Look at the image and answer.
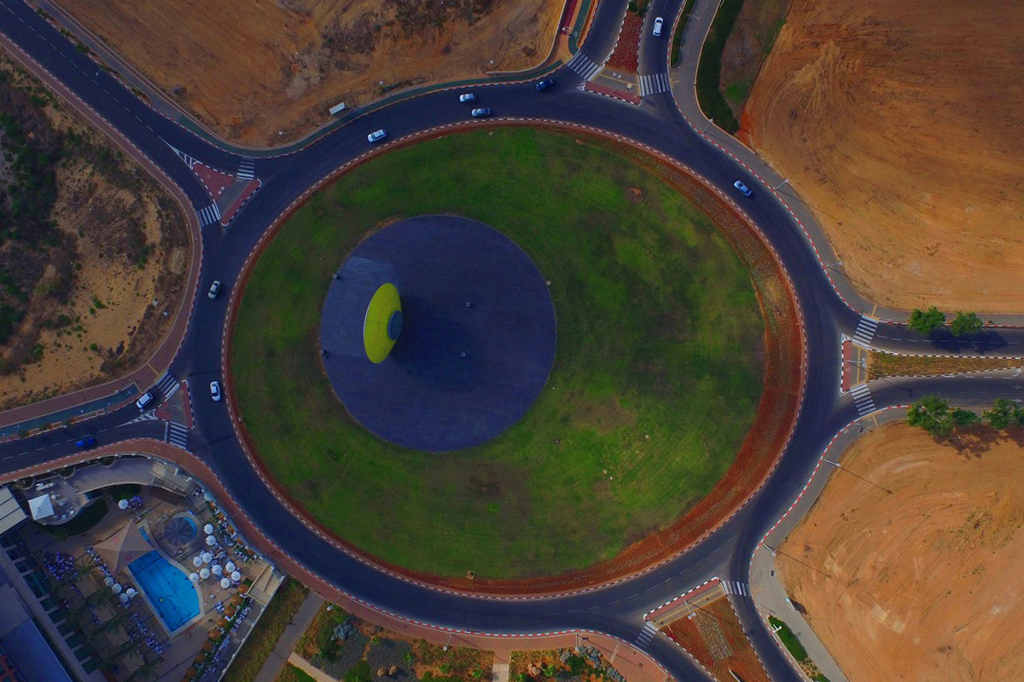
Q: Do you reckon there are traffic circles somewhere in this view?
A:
Yes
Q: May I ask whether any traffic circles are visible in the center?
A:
Yes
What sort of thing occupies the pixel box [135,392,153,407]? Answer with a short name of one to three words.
car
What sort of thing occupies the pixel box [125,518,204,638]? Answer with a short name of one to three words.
swimming pool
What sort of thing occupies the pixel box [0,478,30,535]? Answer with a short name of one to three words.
building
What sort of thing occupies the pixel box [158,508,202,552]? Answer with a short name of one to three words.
swimming pool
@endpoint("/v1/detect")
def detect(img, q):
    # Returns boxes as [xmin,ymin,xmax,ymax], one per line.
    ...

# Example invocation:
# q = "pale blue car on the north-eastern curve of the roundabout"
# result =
[735,180,752,196]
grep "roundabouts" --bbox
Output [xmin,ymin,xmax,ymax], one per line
[180,75,848,636]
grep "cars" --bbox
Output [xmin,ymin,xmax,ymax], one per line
[135,392,153,407]
[458,92,477,101]
[536,78,554,90]
[472,107,490,116]
[367,129,385,141]
[208,281,219,298]
[210,382,220,400]
[75,438,93,448]
[735,180,752,196]
[654,17,663,35]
